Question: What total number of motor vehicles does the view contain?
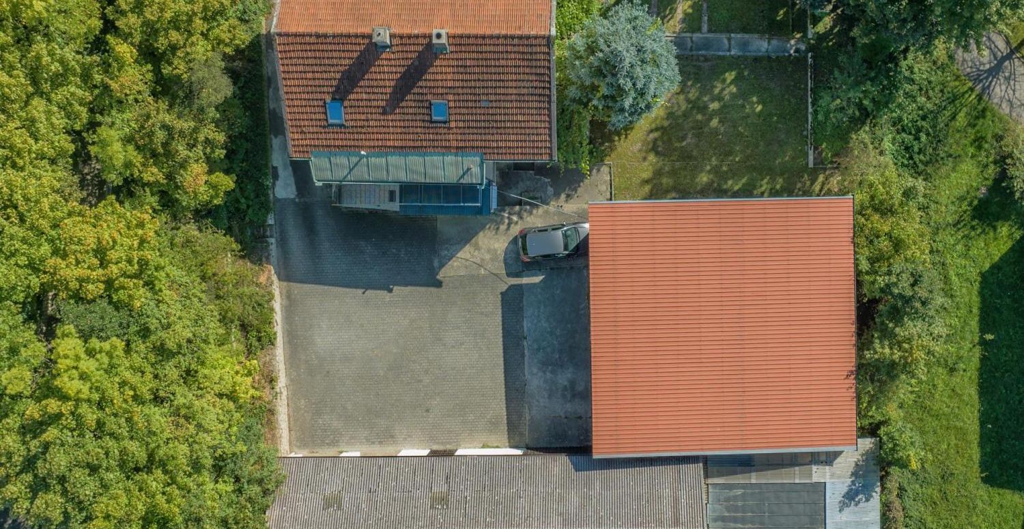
one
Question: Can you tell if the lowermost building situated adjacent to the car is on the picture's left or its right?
right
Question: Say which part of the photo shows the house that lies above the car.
top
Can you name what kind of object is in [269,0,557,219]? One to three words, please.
house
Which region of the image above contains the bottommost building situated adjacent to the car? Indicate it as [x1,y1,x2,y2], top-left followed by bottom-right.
[589,195,858,458]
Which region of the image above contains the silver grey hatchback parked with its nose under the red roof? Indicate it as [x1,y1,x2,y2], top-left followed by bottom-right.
[517,224,589,264]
